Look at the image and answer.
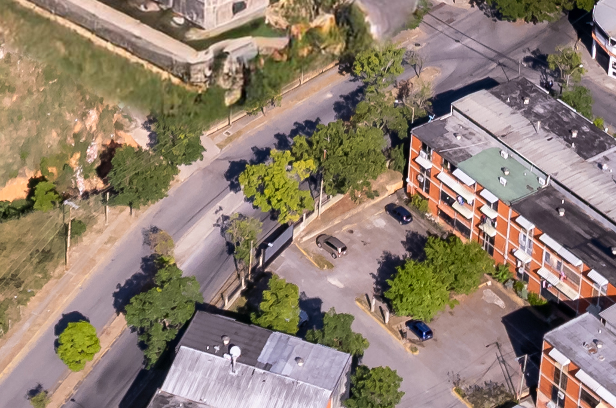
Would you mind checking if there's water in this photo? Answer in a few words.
No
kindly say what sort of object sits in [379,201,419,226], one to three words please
car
